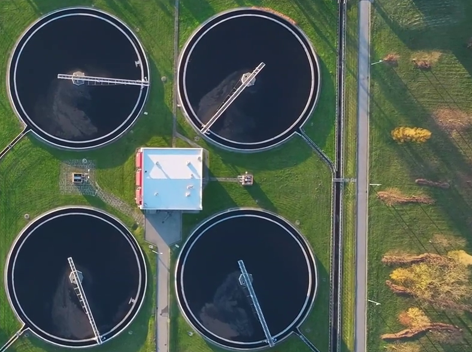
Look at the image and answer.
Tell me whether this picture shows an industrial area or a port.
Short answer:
industrial area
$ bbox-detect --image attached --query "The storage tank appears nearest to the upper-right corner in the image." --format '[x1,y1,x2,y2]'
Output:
[173,6,323,154]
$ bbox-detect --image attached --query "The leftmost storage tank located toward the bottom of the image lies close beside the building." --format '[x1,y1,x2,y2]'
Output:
[2,204,149,351]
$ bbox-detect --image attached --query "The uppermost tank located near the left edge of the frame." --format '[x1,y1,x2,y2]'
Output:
[4,6,151,152]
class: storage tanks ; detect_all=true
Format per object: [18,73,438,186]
[2,204,149,351]
[172,206,319,352]
[4,6,151,152]
[173,6,323,154]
